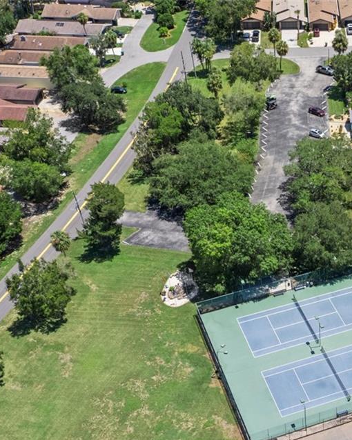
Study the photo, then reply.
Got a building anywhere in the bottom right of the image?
No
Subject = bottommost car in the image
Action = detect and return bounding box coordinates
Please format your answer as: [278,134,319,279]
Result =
[308,126,326,139]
